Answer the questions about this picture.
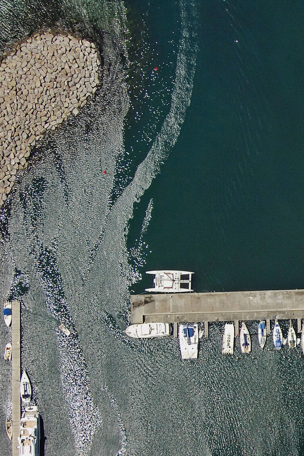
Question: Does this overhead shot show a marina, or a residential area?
marina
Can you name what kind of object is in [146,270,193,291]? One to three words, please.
boat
